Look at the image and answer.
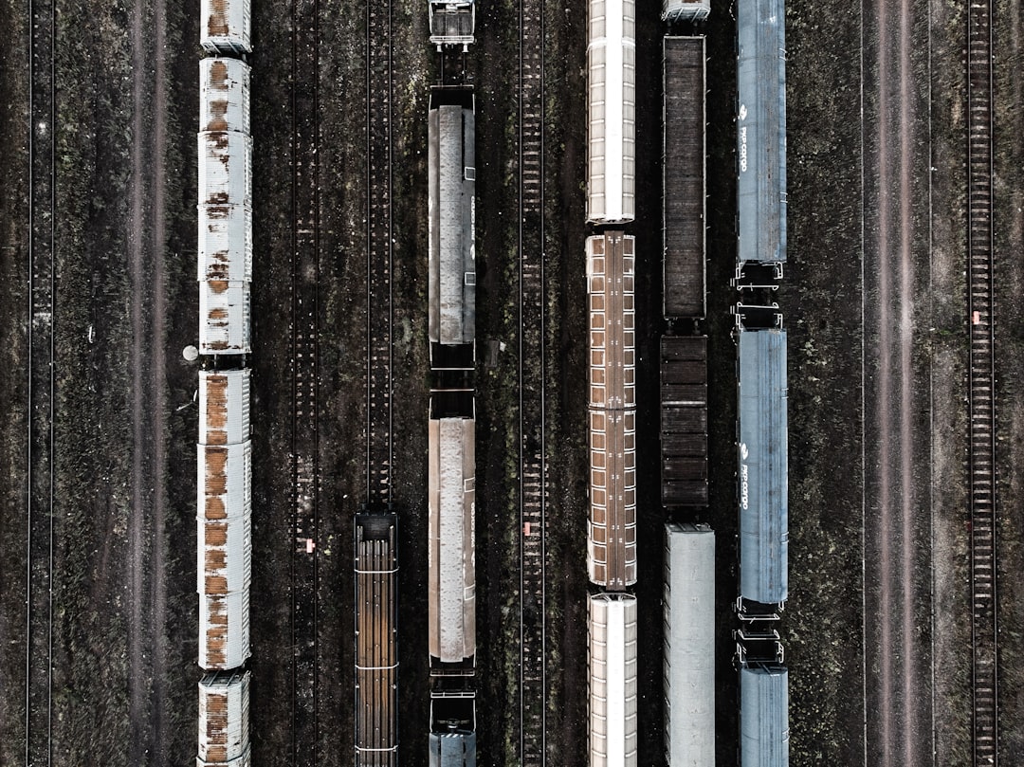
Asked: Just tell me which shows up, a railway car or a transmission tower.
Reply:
railway car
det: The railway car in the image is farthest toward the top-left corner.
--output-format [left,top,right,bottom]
[197,0,252,62]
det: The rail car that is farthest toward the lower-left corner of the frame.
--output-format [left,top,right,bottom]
[194,665,251,767]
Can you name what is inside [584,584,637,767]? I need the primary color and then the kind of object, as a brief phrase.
white rail car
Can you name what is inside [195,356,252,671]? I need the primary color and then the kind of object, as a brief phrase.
white rail car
